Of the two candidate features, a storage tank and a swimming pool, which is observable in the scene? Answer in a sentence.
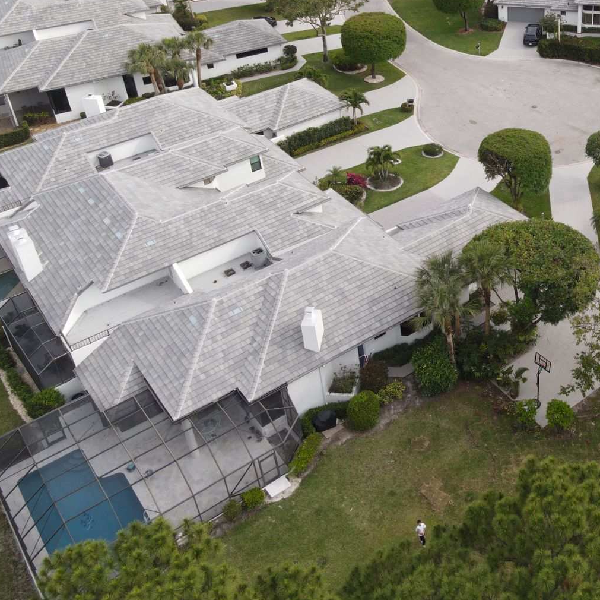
Visible in the photo is a swimming pool.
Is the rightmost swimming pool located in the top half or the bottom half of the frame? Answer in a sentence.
Seen from above, the rightmost swimming pool lies in the bottom half of the view.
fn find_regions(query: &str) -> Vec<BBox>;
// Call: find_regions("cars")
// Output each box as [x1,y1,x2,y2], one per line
[524,27,543,47]
[250,11,285,27]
